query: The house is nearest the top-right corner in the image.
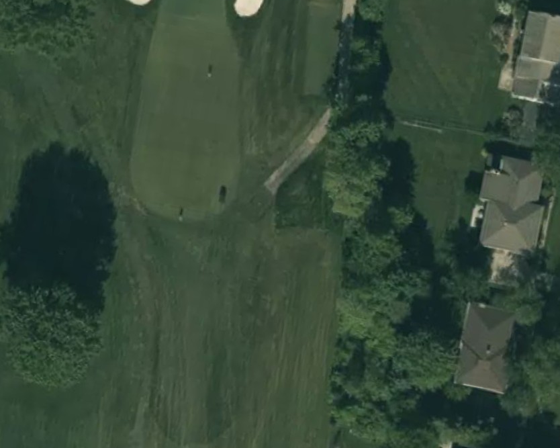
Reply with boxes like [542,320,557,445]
[509,9,560,106]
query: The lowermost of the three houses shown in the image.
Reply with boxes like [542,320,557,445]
[454,301,515,394]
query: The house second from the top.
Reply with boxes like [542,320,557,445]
[477,154,546,256]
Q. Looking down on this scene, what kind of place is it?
golf course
